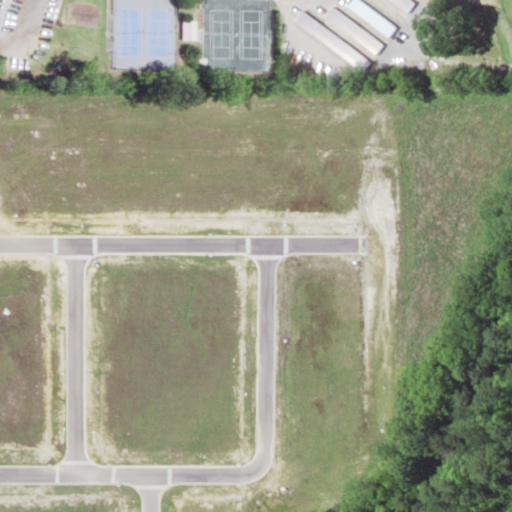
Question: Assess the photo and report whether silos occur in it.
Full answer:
No, I can see no silo in this picture.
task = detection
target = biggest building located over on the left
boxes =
[182,20,198,42]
